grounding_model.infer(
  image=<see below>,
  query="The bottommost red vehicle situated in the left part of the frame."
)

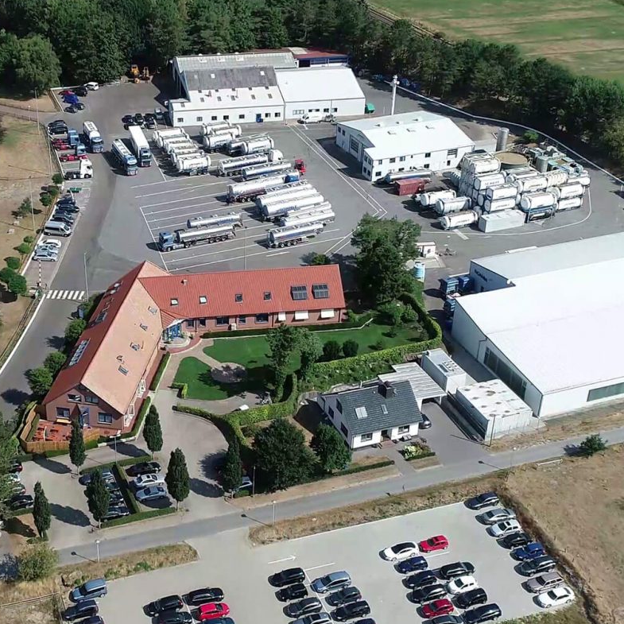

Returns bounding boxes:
[197,603,232,622]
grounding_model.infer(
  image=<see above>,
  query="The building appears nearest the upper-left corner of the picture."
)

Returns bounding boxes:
[170,49,295,126]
